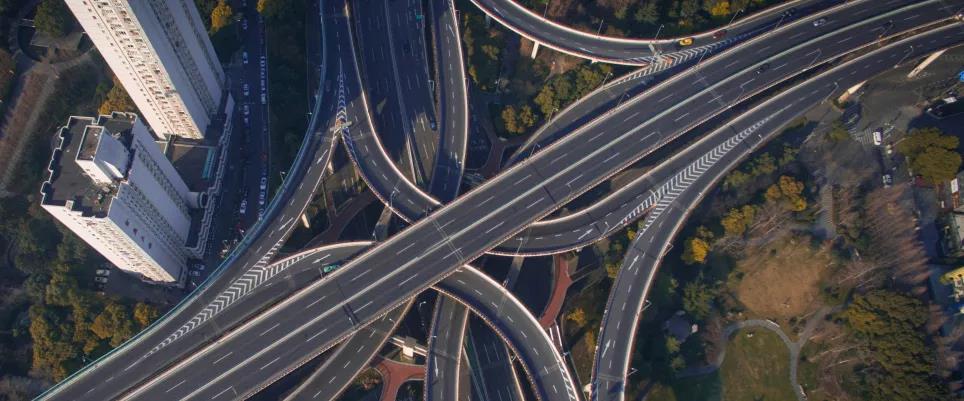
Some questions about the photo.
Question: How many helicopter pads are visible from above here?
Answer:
none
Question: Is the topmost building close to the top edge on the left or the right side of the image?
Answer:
left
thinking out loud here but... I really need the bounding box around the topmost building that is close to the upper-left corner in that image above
[60,0,230,143]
